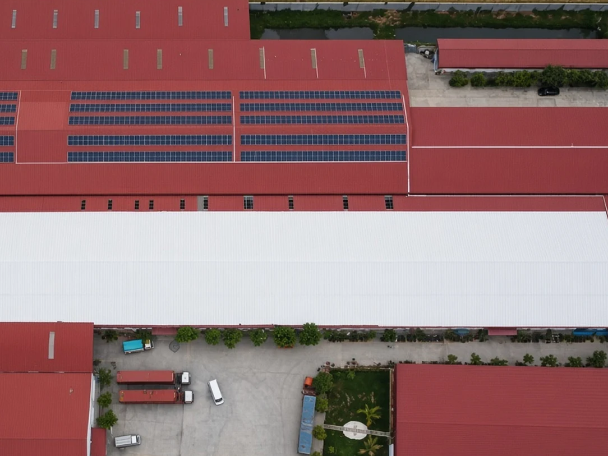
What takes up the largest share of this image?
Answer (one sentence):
For the most part, this view shows buildings.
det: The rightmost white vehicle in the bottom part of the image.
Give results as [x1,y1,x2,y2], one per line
[207,379,223,407]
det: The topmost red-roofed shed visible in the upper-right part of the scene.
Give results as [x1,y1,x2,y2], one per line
[432,39,608,74]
